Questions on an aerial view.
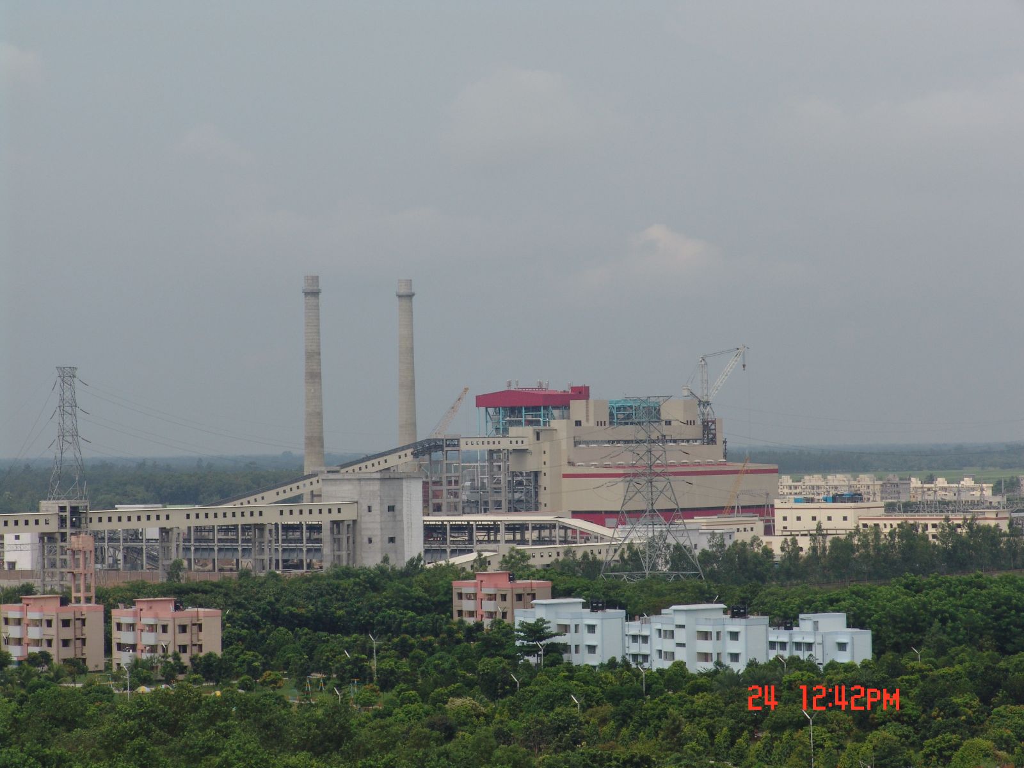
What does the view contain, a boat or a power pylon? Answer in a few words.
power pylon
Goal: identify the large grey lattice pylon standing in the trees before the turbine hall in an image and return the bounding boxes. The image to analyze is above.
[593,396,707,588]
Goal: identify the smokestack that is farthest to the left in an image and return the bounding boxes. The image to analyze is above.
[303,275,324,498]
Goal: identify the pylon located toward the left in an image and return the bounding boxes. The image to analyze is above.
[48,367,91,567]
